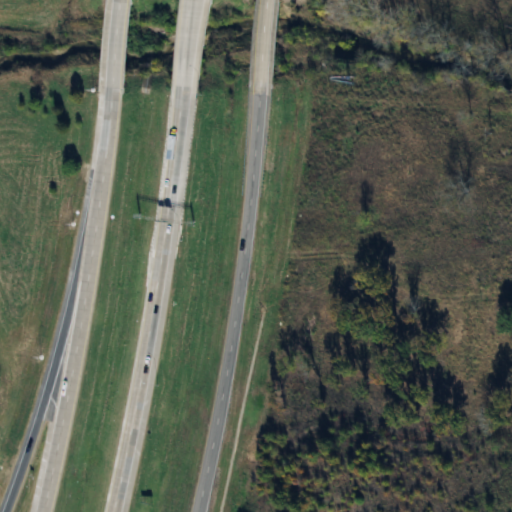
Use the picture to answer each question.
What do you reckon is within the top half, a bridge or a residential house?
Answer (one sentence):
It is a bridge that can be seen within the top half.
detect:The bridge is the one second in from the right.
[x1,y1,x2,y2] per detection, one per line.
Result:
[170,0,212,94]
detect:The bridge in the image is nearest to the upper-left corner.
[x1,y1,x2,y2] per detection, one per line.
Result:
[98,0,132,94]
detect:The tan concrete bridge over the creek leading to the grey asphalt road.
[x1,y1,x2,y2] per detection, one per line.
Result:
[246,0,280,100]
